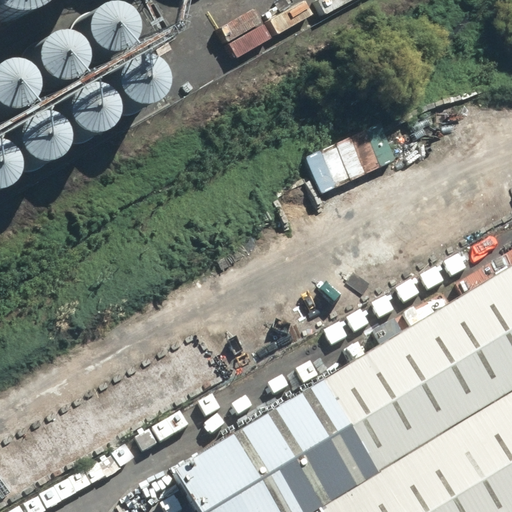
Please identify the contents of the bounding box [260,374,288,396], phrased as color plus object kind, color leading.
white truck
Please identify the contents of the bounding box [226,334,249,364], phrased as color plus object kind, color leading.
black truck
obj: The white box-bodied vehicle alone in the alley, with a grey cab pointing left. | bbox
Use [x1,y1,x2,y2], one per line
[224,394,252,417]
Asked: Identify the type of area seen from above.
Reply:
industrial area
